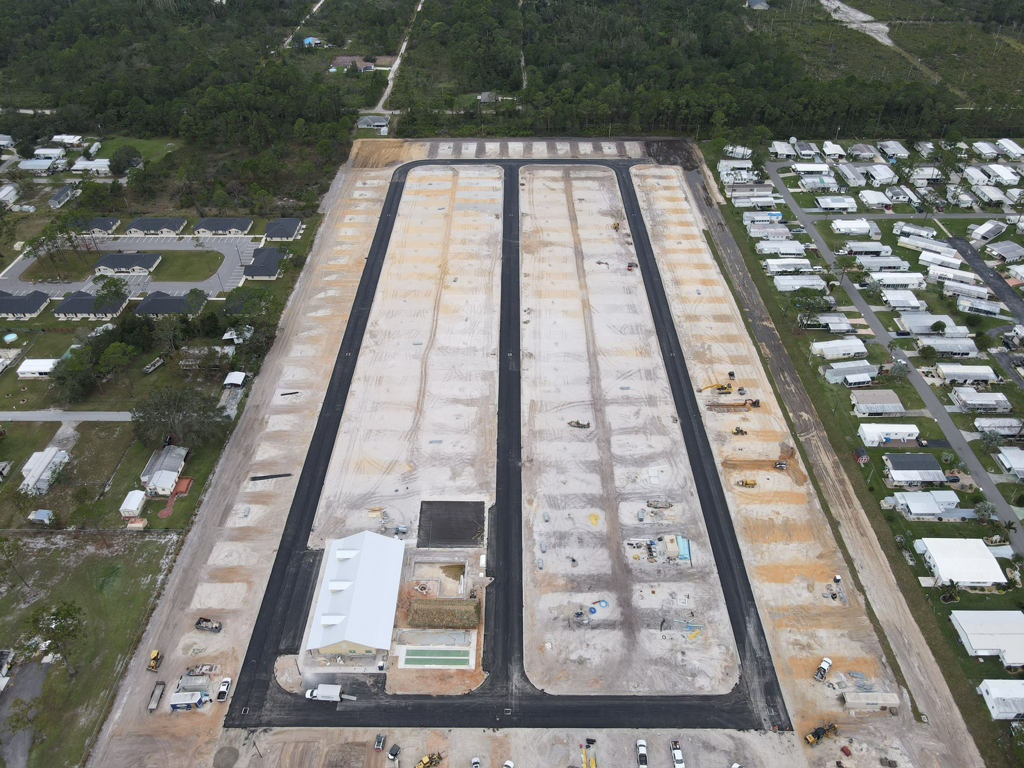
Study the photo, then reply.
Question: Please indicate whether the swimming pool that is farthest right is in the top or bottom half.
bottom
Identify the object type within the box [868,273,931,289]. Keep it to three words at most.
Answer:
house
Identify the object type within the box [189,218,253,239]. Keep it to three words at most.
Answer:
building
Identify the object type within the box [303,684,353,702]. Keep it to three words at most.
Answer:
vehicle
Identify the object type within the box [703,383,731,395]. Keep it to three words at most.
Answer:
vehicle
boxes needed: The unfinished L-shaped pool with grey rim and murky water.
[410,560,466,597]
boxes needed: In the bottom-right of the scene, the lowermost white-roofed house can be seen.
[979,679,1024,719]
